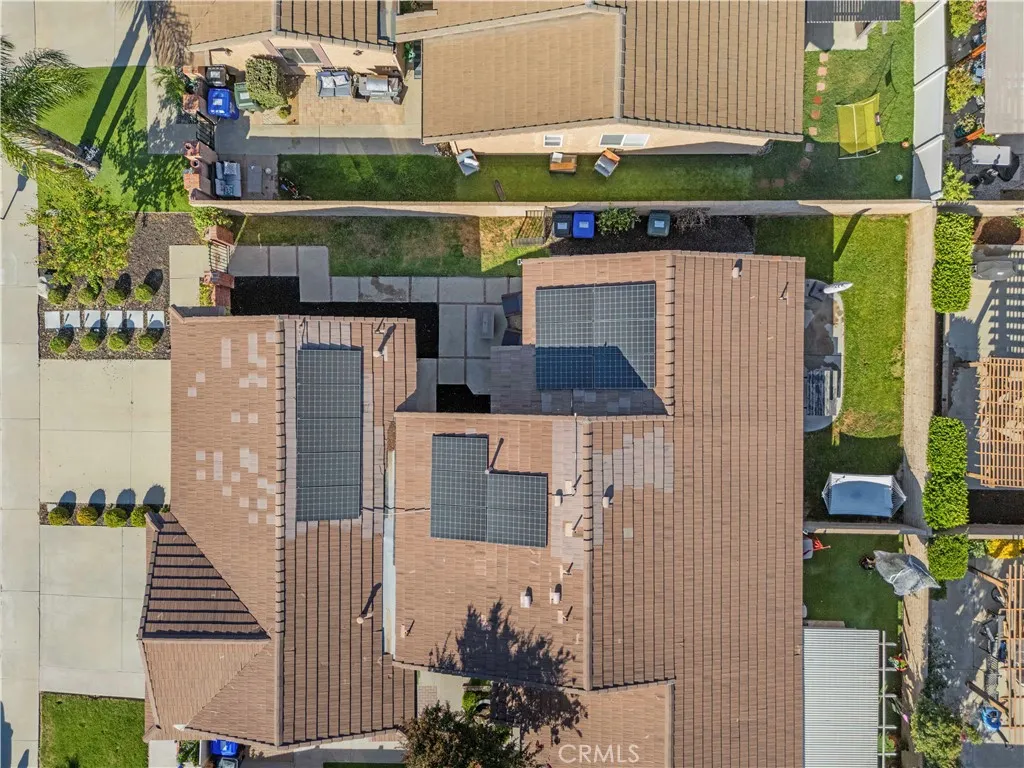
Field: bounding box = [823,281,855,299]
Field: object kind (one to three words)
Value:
umbrella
